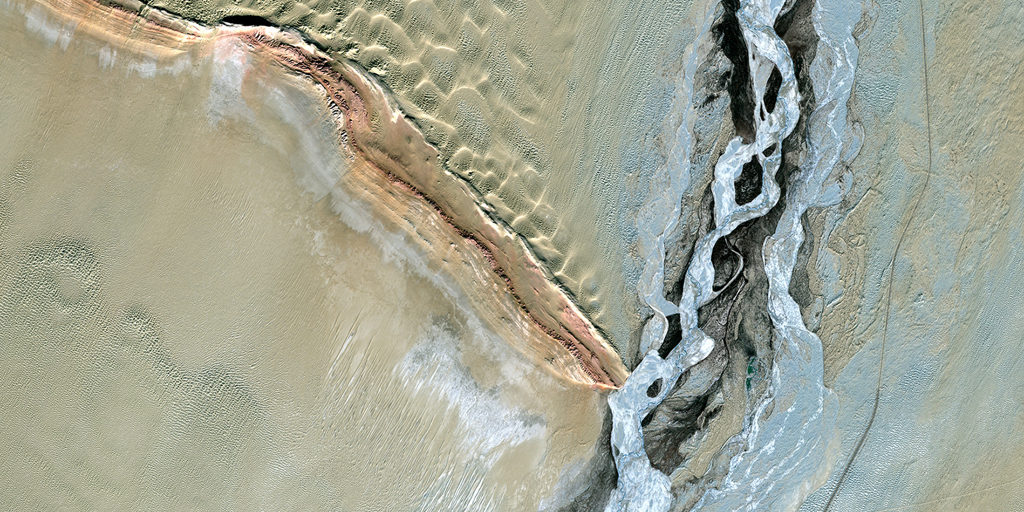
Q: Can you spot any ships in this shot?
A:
No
